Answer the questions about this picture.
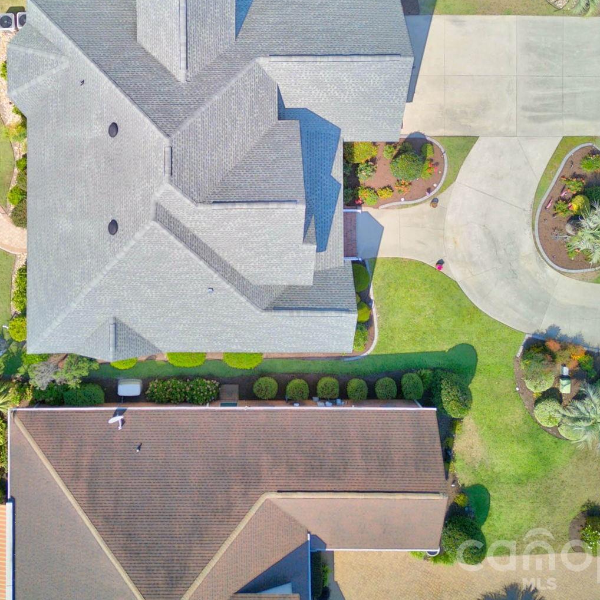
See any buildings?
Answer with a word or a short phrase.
Yes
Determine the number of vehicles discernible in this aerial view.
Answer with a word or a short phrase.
0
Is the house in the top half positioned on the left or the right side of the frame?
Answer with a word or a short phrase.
left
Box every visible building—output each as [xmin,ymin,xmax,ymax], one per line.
[7,398,448,600]
[6,0,414,363]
